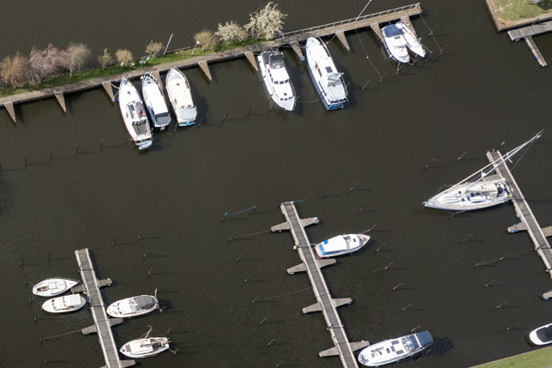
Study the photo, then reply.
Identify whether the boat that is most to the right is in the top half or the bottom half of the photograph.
bottom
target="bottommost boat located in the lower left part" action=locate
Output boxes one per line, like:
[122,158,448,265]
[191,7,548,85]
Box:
[120,334,170,355]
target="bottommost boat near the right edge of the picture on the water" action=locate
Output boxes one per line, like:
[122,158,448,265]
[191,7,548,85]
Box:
[527,320,552,341]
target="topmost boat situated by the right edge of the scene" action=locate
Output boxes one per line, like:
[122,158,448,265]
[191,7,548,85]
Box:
[424,135,543,211]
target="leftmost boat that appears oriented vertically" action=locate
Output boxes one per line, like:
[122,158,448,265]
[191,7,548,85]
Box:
[120,75,146,143]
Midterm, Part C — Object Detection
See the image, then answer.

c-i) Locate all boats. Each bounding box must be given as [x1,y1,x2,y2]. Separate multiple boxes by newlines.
[357,329,439,363]
[256,50,295,112]
[398,20,428,58]
[144,73,170,132]
[424,135,543,211]
[107,294,160,318]
[31,277,78,296]
[42,294,87,312]
[120,75,146,143]
[381,25,409,65]
[527,320,552,341]
[120,334,170,355]
[311,233,372,260]
[169,64,197,130]
[307,33,346,117]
